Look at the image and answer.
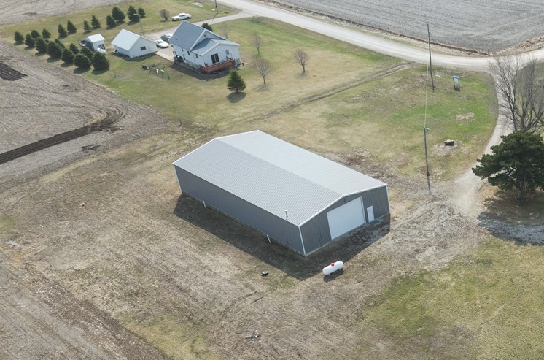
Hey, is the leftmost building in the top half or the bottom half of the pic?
top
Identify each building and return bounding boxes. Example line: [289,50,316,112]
[171,130,391,256]
[167,21,241,76]
[80,30,107,51]
[108,28,159,59]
